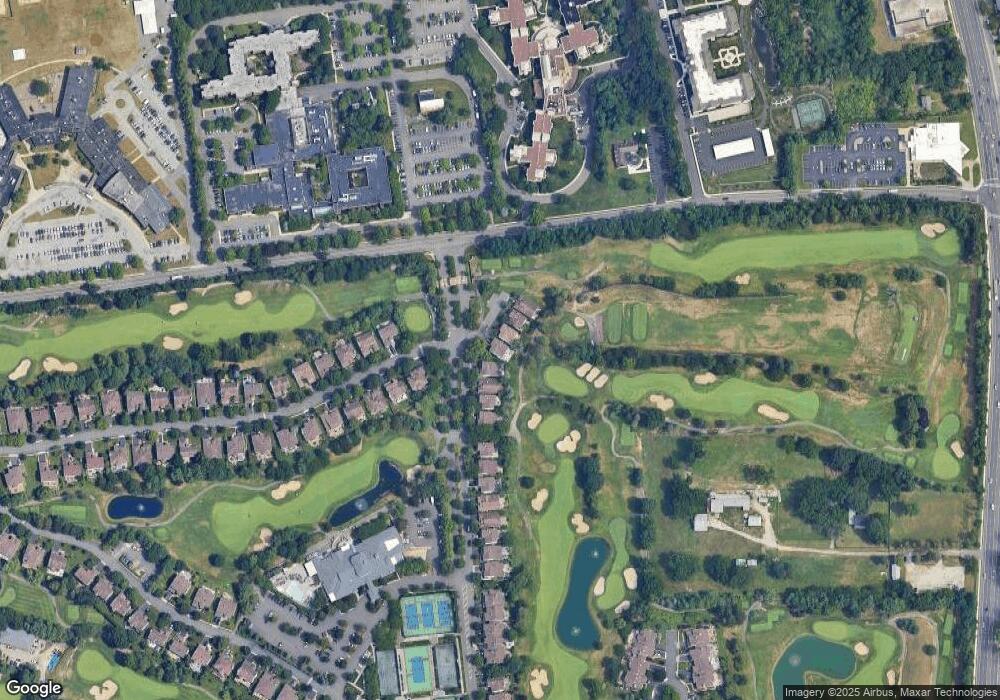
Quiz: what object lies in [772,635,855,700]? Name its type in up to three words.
pond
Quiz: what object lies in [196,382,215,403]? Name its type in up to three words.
house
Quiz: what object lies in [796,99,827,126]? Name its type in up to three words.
tennis court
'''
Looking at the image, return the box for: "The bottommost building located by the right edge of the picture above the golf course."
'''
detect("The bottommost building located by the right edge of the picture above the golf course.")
[911,123,970,176]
